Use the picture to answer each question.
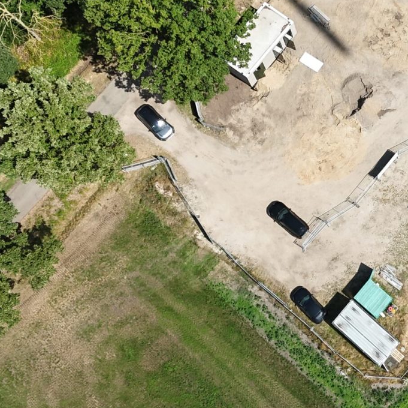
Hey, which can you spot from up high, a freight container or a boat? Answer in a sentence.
I can see a freight container in this picture.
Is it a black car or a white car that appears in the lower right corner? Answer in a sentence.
It is a black car that can be seen in the lower right corner.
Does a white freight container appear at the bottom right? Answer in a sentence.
Yes, there is a white freight container at the bottom right.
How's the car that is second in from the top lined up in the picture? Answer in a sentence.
I'd say the car that is second in from the top is aligned diagonally in the picture.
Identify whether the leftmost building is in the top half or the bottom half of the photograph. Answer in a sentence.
Seen from above, the leftmost building lies in the top half of the view.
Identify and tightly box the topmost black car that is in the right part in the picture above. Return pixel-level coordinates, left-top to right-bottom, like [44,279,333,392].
[263,199,310,242]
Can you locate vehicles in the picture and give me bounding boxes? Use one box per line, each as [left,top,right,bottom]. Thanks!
[263,199,310,242]
[285,282,329,328]
[133,103,176,143]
